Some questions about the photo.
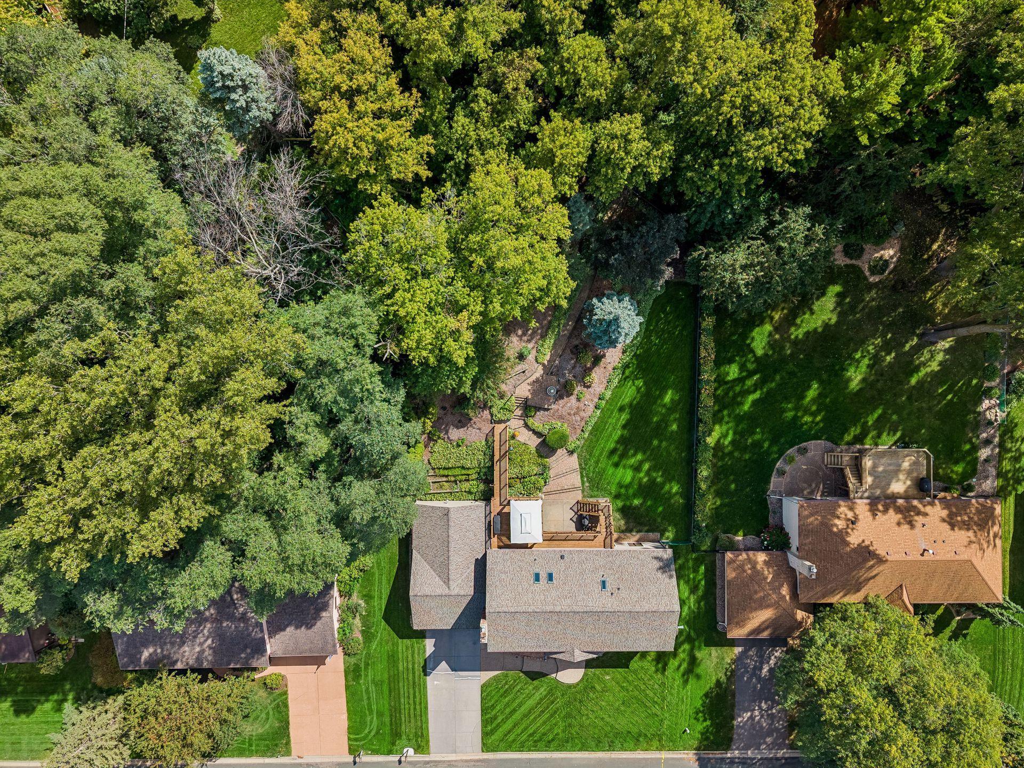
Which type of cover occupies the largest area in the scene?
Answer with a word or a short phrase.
trees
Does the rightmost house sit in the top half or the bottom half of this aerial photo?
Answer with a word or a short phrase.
bottom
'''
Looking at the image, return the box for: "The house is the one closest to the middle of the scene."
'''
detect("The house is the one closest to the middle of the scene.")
[410,500,682,664]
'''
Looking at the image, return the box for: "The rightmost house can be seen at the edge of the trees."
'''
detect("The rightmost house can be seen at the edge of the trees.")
[713,496,1003,639]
